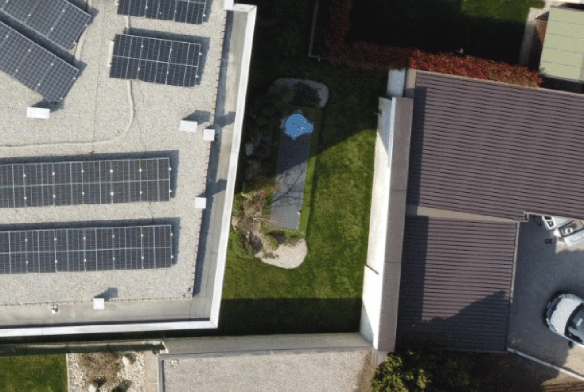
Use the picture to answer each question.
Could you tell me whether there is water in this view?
No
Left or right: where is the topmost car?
right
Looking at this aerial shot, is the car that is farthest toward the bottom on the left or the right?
right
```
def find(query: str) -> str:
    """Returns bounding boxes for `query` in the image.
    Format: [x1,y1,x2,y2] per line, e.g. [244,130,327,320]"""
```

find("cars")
[536,296,584,353]
[546,220,584,256]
